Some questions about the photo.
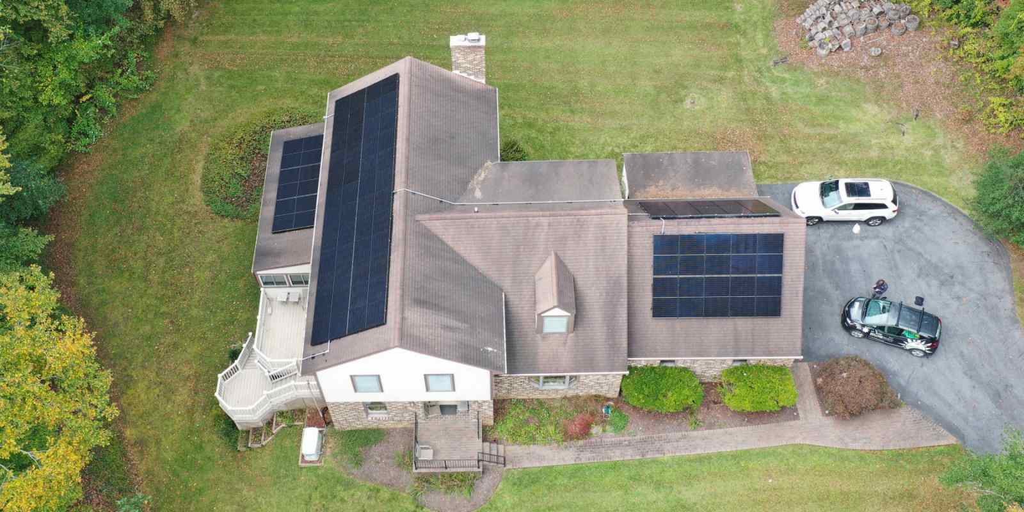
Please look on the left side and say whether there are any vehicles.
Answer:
No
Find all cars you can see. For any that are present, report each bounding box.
[790,176,898,227]
[841,297,943,358]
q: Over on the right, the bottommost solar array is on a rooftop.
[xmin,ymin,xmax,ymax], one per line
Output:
[652,232,782,319]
